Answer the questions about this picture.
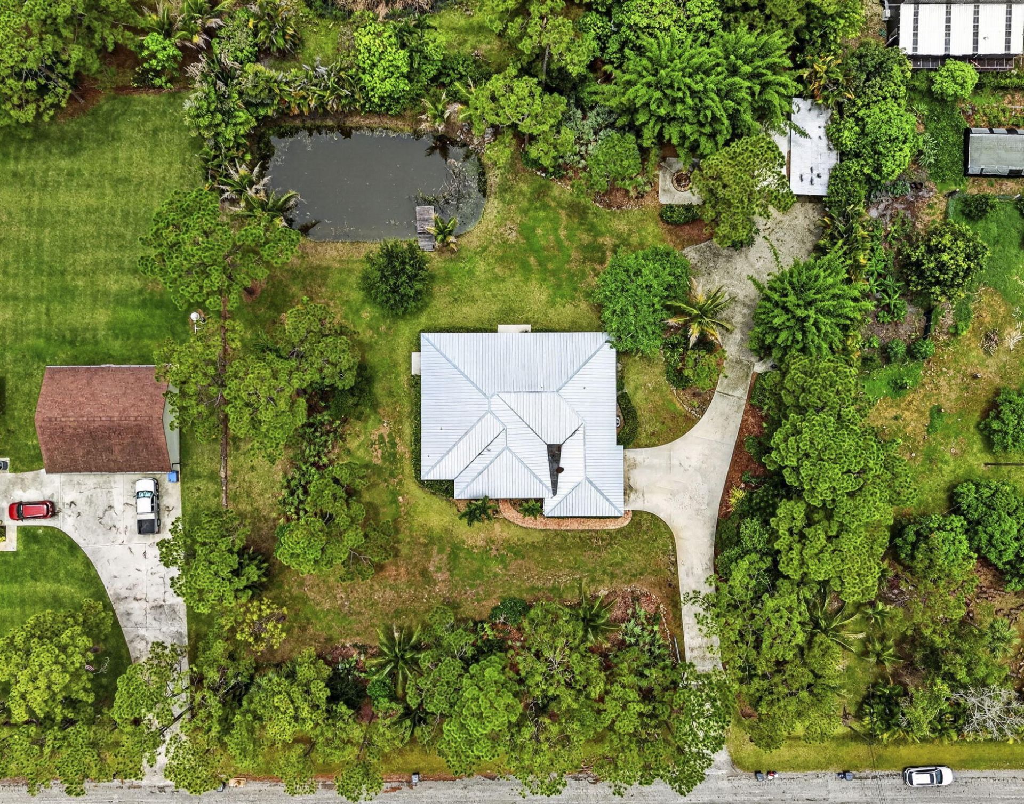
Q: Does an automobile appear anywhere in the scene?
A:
Yes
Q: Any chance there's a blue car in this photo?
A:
No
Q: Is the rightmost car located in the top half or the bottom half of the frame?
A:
bottom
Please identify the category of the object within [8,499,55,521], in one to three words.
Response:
car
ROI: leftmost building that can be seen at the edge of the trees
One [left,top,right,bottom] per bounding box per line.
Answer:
[33,365,180,474]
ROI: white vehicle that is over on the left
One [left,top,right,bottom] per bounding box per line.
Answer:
[134,478,163,535]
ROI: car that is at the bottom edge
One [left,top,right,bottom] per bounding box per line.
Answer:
[902,760,952,787]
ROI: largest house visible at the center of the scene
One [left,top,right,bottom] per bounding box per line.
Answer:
[420,332,624,517]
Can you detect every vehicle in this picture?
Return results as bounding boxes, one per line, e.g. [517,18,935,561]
[902,760,952,787]
[8,499,55,521]
[134,478,163,535]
